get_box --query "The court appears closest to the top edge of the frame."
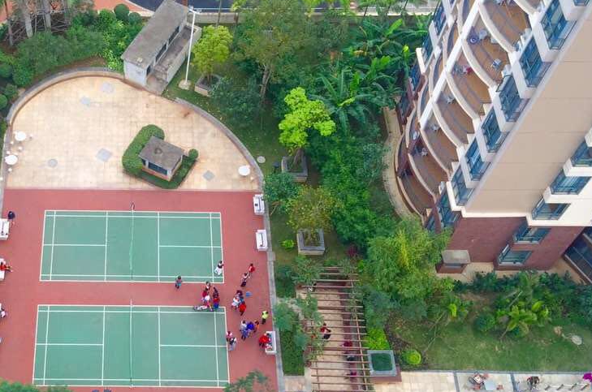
[40,200,224,283]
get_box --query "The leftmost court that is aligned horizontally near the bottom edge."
[32,296,229,388]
